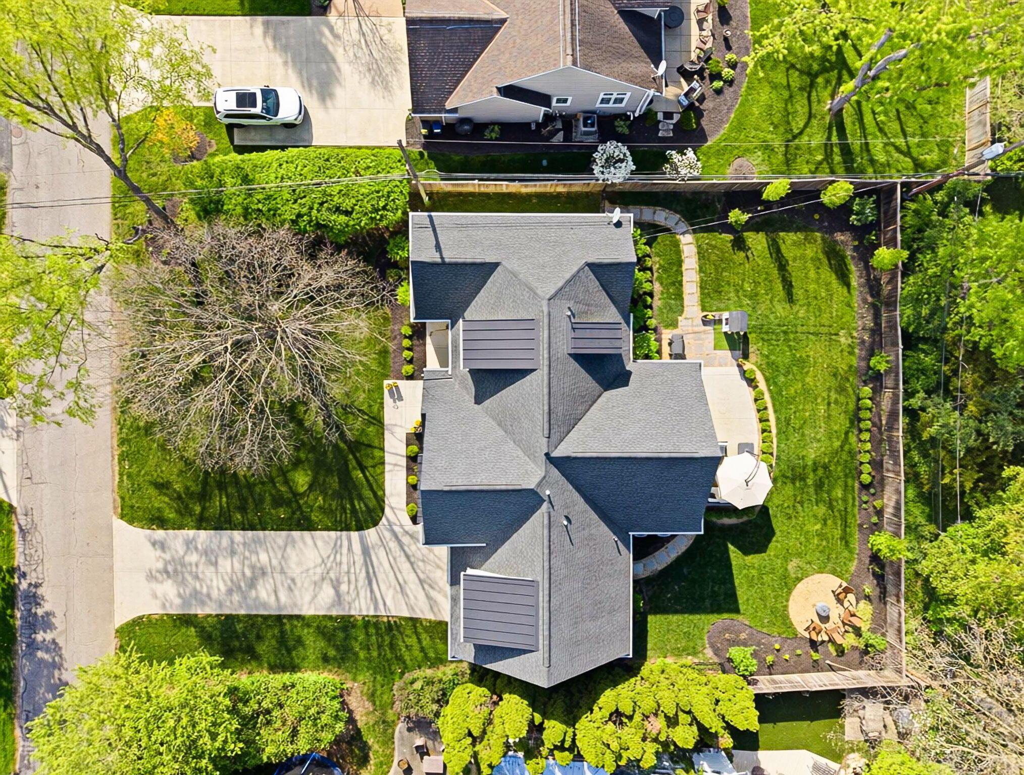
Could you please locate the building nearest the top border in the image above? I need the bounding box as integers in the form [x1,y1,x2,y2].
[407,0,682,135]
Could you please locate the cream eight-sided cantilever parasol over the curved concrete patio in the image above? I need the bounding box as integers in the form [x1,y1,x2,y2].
[715,441,771,507]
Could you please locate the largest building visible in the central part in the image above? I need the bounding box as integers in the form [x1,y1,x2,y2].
[408,210,721,693]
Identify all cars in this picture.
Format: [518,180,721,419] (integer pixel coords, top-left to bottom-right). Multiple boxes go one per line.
[213,82,307,130]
